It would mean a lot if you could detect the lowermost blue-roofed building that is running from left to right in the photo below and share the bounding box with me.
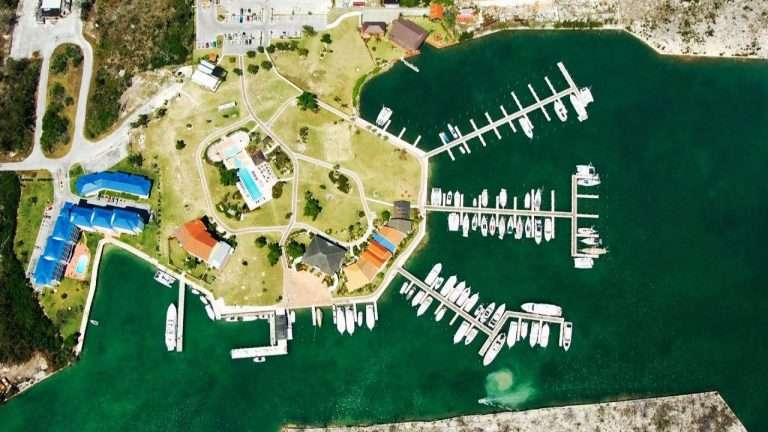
[69,206,146,235]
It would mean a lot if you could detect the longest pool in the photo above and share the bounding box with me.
[238,167,262,200]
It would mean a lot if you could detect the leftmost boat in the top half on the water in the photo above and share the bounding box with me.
[376,106,391,127]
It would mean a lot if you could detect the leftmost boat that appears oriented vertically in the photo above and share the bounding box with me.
[163,303,176,352]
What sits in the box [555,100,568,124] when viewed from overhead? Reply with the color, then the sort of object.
white boat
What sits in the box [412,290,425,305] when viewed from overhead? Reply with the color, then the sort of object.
white boat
